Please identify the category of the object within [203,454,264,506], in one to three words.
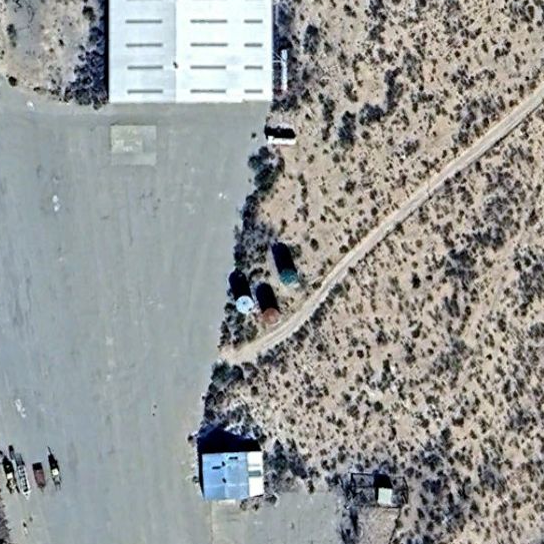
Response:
building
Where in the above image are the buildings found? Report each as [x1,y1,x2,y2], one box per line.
[109,0,273,102]
[379,489,393,505]
[203,454,264,506]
